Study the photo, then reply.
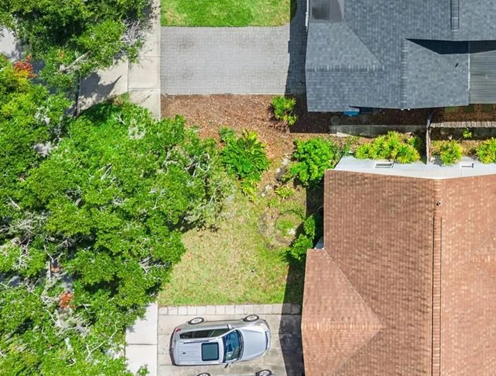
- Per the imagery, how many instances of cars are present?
one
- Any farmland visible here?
No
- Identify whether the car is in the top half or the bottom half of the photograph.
bottom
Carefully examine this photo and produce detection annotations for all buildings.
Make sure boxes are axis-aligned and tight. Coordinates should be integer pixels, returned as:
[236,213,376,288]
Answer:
[297,157,496,376]
[302,0,496,112]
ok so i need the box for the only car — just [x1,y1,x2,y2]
[170,318,272,373]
